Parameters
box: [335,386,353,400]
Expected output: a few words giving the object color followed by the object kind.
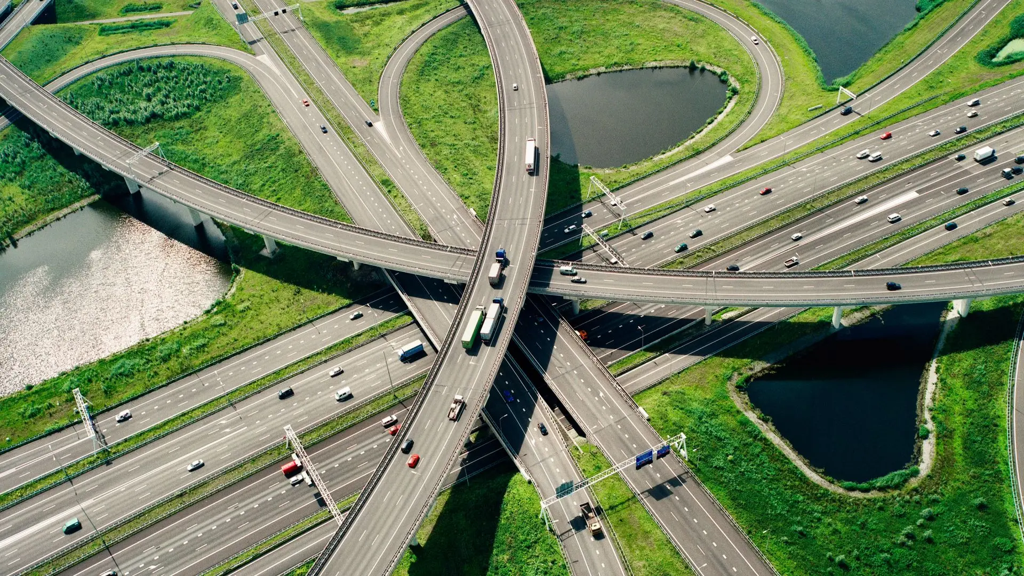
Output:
white vehicle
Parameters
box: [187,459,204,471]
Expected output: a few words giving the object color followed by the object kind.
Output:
white vehicle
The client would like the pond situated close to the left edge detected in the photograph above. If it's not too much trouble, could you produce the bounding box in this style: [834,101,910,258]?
[0,184,231,396]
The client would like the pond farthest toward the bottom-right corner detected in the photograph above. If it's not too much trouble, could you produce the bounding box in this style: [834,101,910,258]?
[749,300,949,483]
